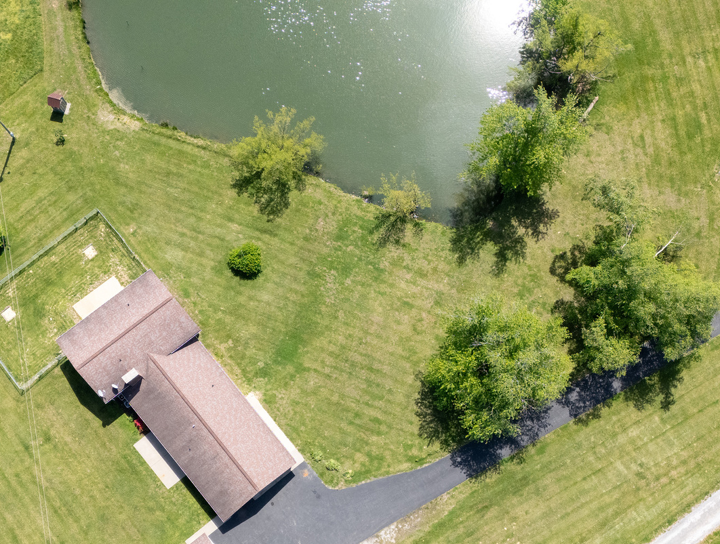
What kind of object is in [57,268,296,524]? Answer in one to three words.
house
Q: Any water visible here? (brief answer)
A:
Yes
